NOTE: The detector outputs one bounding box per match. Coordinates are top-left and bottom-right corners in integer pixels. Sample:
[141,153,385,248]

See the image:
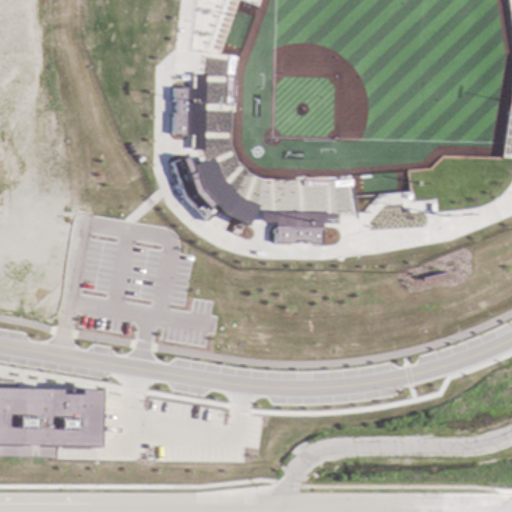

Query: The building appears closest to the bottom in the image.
[0,388,104,458]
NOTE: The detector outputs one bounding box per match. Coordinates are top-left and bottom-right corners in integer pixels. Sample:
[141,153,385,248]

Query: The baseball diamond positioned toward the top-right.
[234,0,512,179]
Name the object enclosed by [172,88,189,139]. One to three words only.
building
